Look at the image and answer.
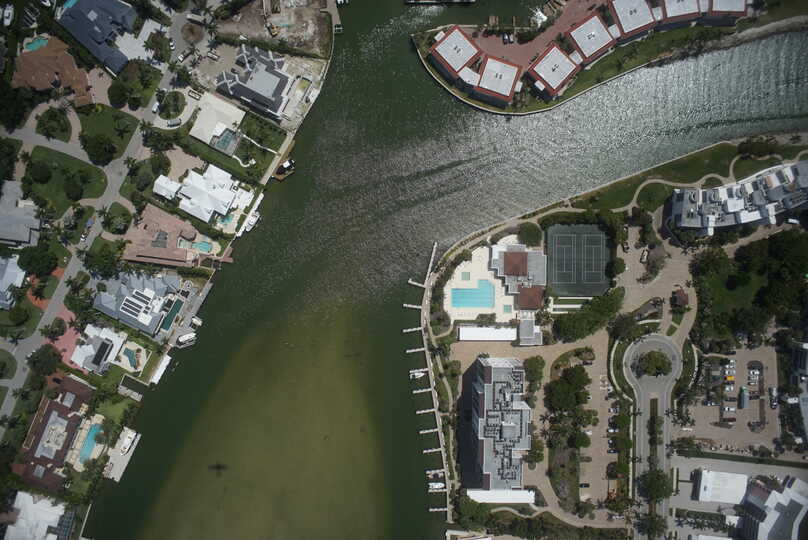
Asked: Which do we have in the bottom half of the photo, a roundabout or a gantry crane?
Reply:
roundabout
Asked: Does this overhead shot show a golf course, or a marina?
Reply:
marina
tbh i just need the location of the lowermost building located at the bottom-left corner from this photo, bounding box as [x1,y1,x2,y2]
[6,490,66,540]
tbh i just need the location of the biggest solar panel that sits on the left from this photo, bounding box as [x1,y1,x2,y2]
[92,340,110,367]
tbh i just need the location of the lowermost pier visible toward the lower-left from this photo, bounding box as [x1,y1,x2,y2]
[102,426,142,482]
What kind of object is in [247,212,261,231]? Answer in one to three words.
boat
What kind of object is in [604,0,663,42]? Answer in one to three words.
building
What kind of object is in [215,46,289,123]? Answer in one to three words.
house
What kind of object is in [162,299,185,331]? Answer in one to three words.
swimming pool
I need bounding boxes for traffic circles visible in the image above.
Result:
[624,334,683,392]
